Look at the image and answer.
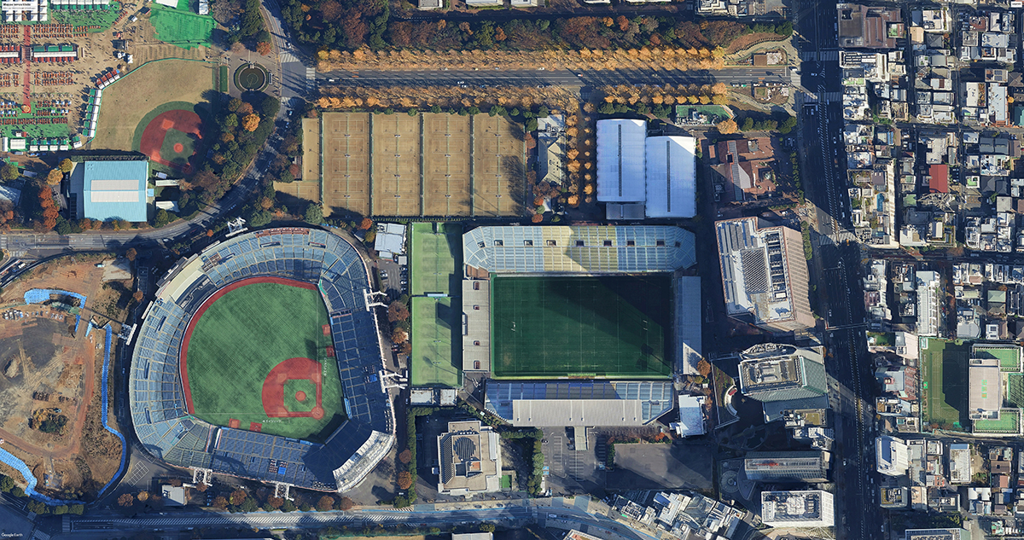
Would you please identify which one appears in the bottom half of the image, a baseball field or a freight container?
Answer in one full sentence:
There is a baseball field in the bottom half of the image.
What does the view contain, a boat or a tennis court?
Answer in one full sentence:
The one in the frame is a tennis court.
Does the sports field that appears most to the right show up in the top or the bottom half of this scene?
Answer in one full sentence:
The sports field that appears most to the right is in the bottom half of the image.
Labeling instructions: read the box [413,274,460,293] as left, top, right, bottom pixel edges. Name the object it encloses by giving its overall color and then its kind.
green tennis court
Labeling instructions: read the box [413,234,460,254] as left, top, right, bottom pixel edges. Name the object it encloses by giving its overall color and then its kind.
green tennis court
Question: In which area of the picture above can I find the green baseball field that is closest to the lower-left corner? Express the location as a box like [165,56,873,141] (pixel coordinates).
[181,277,349,441]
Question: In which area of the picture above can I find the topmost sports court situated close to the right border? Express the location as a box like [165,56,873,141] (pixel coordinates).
[973,345,1024,374]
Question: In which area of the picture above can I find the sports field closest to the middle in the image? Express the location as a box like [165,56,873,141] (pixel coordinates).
[491,273,672,380]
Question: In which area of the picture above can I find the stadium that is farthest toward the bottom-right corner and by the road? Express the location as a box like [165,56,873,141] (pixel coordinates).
[462,225,702,450]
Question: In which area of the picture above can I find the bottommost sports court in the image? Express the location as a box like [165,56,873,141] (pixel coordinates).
[973,407,1024,436]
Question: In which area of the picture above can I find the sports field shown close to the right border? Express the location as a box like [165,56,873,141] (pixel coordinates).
[921,338,973,432]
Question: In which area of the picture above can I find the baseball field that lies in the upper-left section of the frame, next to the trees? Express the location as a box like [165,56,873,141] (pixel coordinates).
[90,60,218,177]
